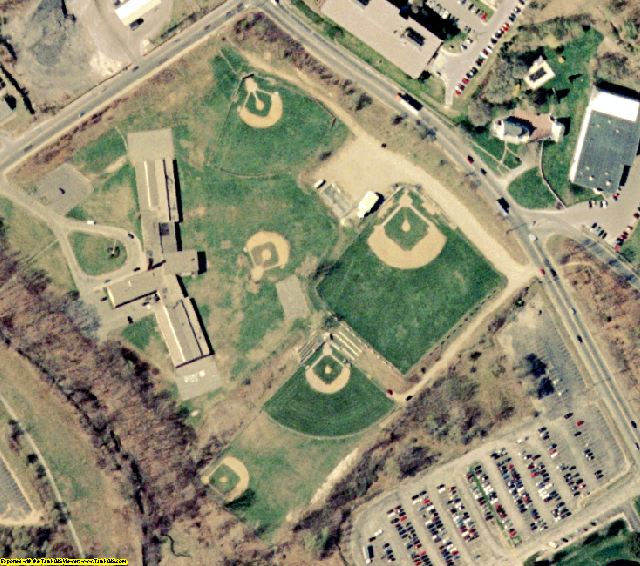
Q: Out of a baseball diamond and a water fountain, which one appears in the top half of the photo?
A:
baseball diamond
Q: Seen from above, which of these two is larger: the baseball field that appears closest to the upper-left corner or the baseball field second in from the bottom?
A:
the baseball field second in from the bottom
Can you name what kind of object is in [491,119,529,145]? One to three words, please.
house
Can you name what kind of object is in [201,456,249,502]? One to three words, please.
baseball field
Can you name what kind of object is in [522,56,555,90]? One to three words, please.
house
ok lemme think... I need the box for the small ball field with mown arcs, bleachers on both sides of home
[263,338,394,437]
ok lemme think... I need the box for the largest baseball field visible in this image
[319,187,508,375]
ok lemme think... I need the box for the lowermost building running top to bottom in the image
[108,159,214,367]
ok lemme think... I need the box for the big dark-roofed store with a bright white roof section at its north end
[569,92,640,197]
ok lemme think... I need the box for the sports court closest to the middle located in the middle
[276,277,311,320]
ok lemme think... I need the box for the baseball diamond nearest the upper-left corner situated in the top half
[238,77,282,128]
